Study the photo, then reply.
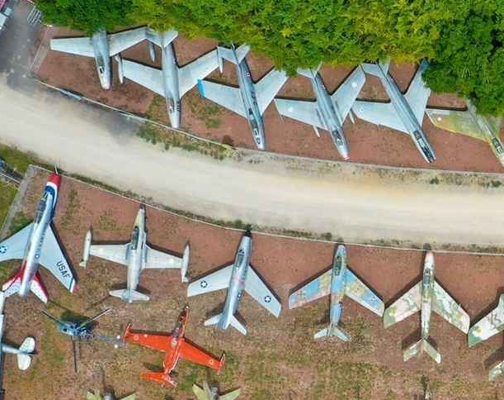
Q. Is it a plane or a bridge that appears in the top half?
plane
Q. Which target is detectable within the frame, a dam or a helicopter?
helicopter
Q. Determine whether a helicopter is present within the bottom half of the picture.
Yes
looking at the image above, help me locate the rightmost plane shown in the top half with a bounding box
[429,106,504,166]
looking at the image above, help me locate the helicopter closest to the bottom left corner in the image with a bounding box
[43,309,122,372]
